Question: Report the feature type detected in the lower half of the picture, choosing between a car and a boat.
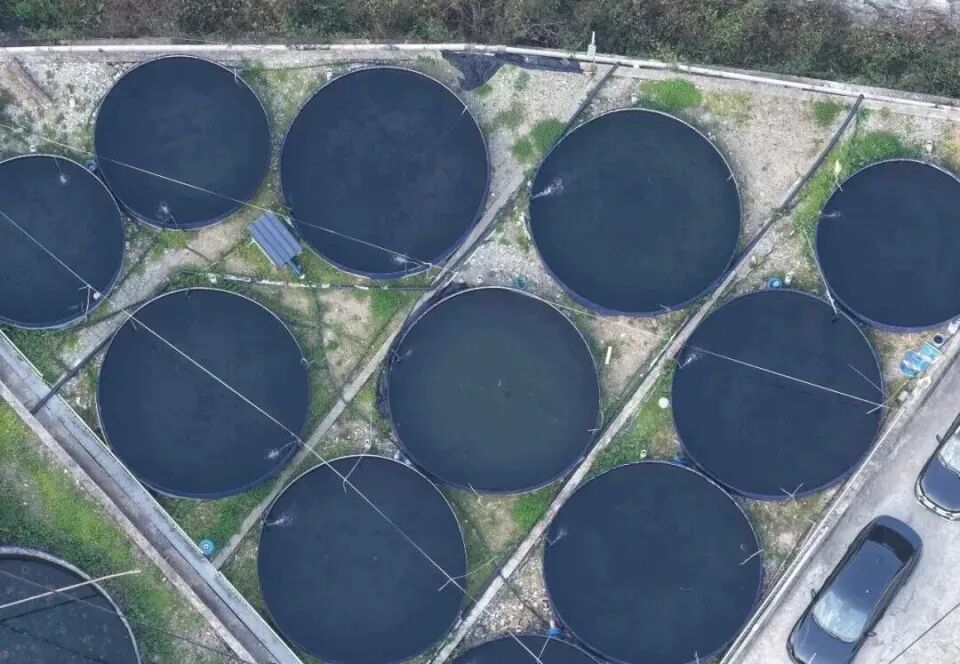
car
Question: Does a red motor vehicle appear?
No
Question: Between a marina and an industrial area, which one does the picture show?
industrial area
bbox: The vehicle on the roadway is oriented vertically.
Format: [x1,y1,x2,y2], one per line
[914,412,960,521]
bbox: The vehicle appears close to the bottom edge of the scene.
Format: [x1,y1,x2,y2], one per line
[779,506,919,664]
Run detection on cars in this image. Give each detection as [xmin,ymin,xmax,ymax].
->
[779,506,919,664]
[914,412,960,521]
